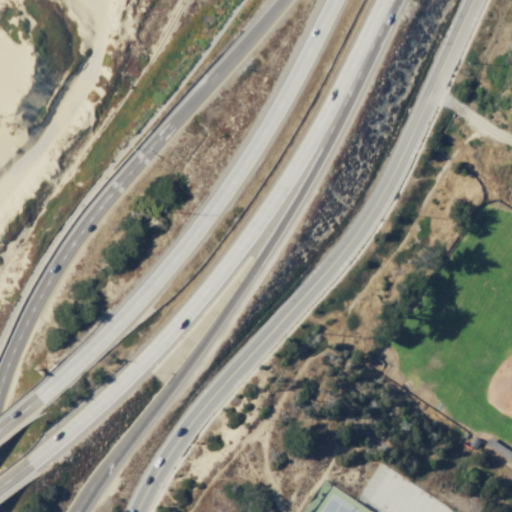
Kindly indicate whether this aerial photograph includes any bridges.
Yes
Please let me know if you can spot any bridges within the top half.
No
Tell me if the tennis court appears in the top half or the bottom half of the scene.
bottom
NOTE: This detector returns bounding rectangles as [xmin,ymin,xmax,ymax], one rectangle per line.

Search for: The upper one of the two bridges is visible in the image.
[0,389,48,446]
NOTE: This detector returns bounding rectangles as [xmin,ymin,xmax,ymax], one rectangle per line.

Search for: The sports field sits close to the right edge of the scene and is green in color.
[392,204,512,444]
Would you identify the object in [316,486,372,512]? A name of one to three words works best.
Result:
tennis court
